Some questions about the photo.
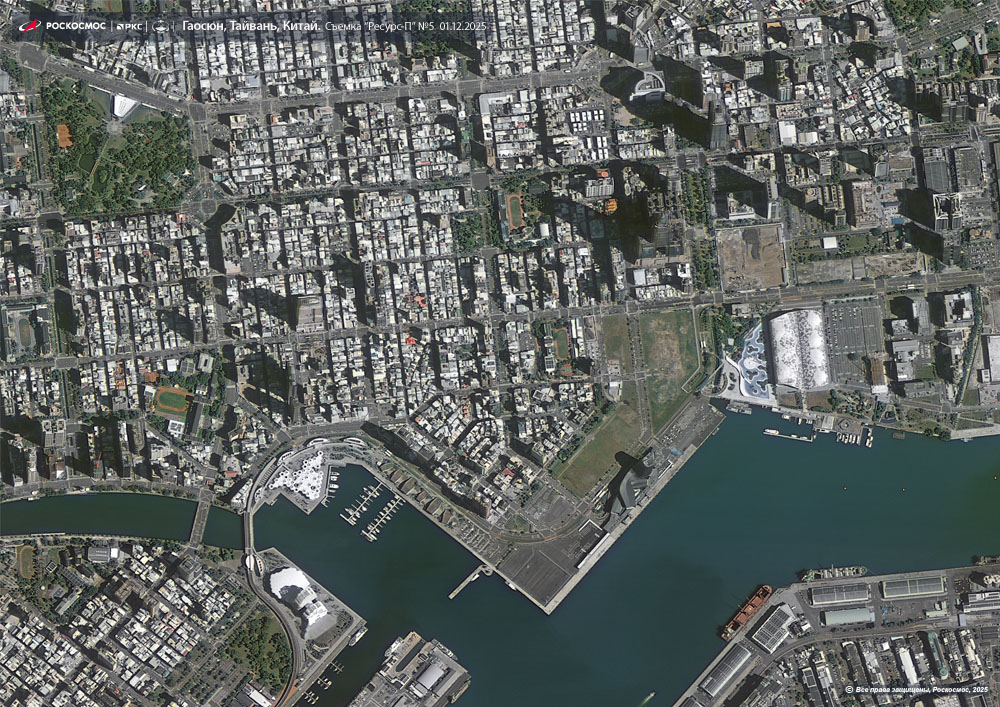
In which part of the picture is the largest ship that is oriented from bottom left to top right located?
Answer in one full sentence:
The largest ship that is oriented from bottom left to top right is located in the bottom right region of the scene.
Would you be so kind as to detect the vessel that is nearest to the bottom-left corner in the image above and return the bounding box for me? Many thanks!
[351,626,368,645]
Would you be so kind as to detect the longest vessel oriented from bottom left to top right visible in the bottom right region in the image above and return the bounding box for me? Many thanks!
[721,587,771,639]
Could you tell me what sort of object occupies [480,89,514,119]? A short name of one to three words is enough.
building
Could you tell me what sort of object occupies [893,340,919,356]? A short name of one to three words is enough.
building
